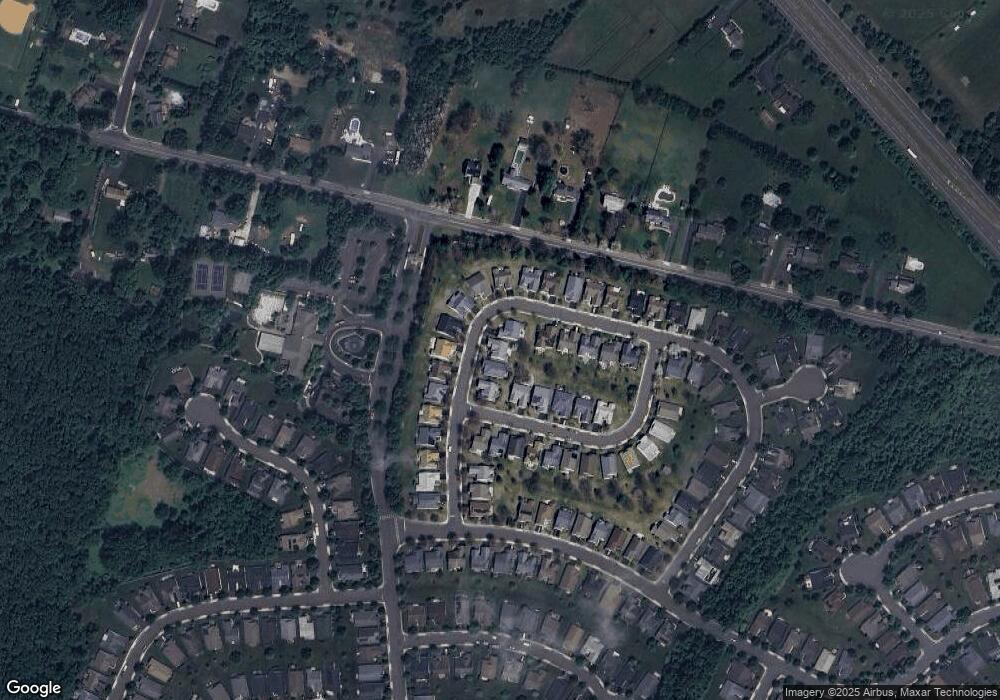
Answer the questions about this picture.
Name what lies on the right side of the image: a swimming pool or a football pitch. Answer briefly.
swimming pool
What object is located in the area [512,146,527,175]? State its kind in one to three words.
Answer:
swimming pool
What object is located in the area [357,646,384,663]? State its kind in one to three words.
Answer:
house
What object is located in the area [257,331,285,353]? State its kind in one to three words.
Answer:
building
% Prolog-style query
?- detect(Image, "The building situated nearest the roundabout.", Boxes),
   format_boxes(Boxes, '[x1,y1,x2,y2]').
[281,308,326,377]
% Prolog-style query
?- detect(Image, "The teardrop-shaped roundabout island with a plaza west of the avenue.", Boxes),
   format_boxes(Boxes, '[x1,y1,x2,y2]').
[322,319,389,379]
